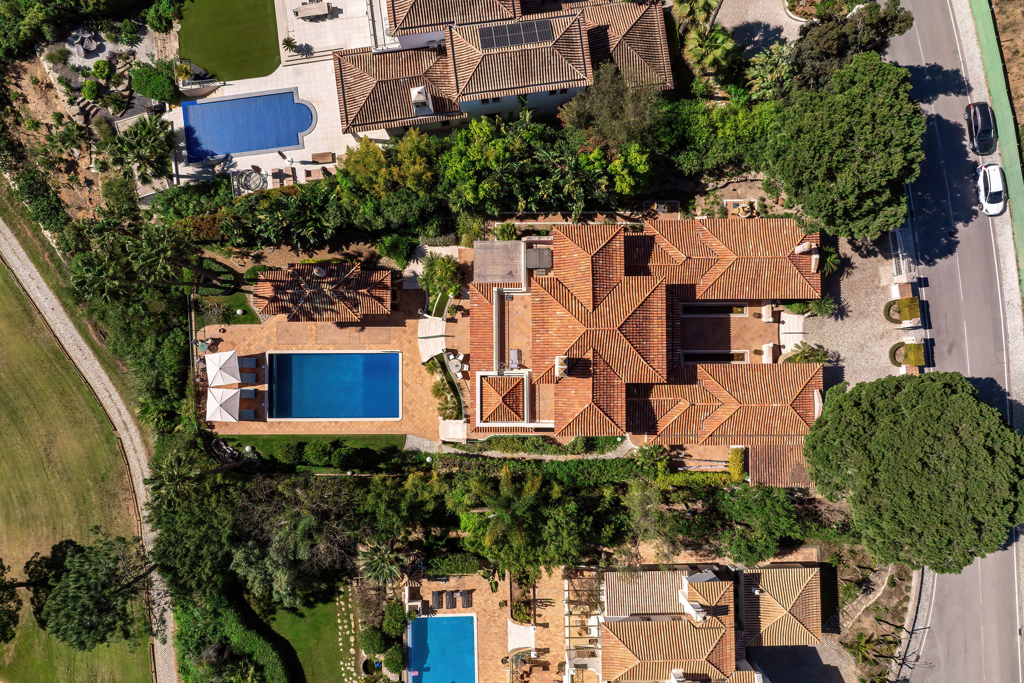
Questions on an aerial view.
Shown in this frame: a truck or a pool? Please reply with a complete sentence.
The image shows a pool.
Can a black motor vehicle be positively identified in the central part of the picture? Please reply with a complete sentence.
No, looking in the central part of the picture, there is no black motor vehicle.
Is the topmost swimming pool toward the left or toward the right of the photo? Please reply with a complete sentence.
It is on the left.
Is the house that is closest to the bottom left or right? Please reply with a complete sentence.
The house that is closest to the bottom is on the right side of the image.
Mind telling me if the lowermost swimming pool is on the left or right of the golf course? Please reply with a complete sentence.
Looking at the photo, the lowermost swimming pool lies to the right of the golf course.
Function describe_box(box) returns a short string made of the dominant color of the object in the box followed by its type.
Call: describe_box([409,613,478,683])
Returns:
blue swimming pool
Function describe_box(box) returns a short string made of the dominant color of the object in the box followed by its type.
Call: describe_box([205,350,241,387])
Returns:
white umbrella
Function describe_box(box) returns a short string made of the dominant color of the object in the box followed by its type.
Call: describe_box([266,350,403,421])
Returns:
blue swimming pool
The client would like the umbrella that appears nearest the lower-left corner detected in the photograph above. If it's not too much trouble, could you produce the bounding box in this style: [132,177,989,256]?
[206,388,240,422]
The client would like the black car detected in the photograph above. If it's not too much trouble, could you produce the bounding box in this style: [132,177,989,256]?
[965,101,1000,157]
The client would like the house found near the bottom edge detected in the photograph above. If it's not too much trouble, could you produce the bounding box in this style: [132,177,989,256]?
[599,554,823,683]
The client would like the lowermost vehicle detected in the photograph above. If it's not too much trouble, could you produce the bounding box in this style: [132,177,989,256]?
[974,163,1009,218]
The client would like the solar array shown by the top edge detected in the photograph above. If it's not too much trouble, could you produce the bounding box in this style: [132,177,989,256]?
[479,20,553,49]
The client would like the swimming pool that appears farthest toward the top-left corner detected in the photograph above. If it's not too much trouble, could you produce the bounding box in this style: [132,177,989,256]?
[182,87,318,167]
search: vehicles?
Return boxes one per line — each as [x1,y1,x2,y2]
[974,163,1009,218]
[965,101,1000,157]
